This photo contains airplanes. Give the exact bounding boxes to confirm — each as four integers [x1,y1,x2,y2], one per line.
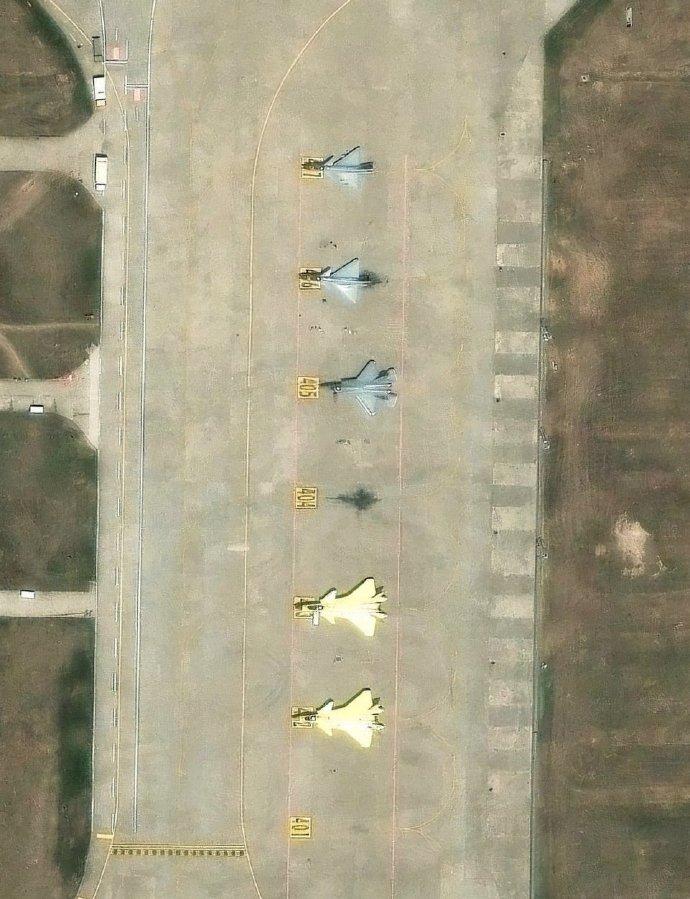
[322,361,398,416]
[302,148,375,192]
[297,579,387,638]
[299,258,372,303]
[292,689,385,749]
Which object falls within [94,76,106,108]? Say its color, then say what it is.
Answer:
white vehicle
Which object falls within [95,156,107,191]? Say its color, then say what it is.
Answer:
white vehicle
